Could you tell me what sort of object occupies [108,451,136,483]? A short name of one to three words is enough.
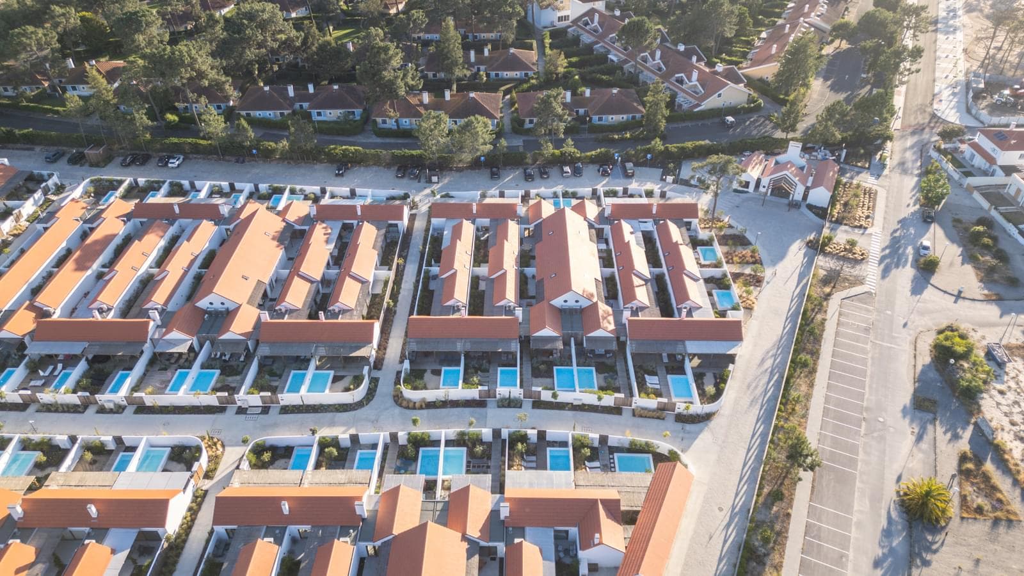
swimming pool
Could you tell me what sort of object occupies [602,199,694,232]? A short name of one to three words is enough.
house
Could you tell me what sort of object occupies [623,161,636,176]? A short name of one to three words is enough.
vehicle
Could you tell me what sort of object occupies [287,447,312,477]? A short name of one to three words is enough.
swimming pool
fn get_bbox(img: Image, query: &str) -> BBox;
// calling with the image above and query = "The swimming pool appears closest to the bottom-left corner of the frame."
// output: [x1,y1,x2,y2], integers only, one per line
[1,450,38,476]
